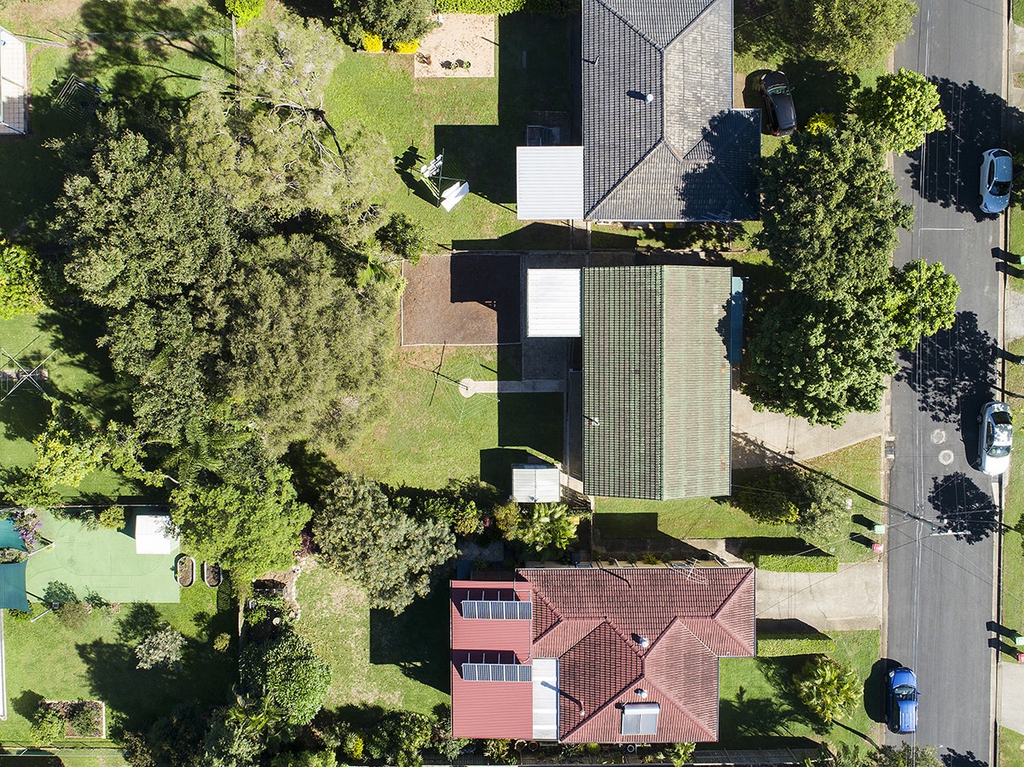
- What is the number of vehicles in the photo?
4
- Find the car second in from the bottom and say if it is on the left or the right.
right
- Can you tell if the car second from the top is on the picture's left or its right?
right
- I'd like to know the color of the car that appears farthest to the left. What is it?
black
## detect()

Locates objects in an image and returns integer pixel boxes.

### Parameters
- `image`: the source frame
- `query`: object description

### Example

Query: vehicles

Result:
[889,667,926,733]
[979,401,1018,475]
[759,69,800,138]
[981,149,1020,214]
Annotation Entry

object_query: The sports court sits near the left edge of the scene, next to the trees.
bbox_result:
[18,509,179,603]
